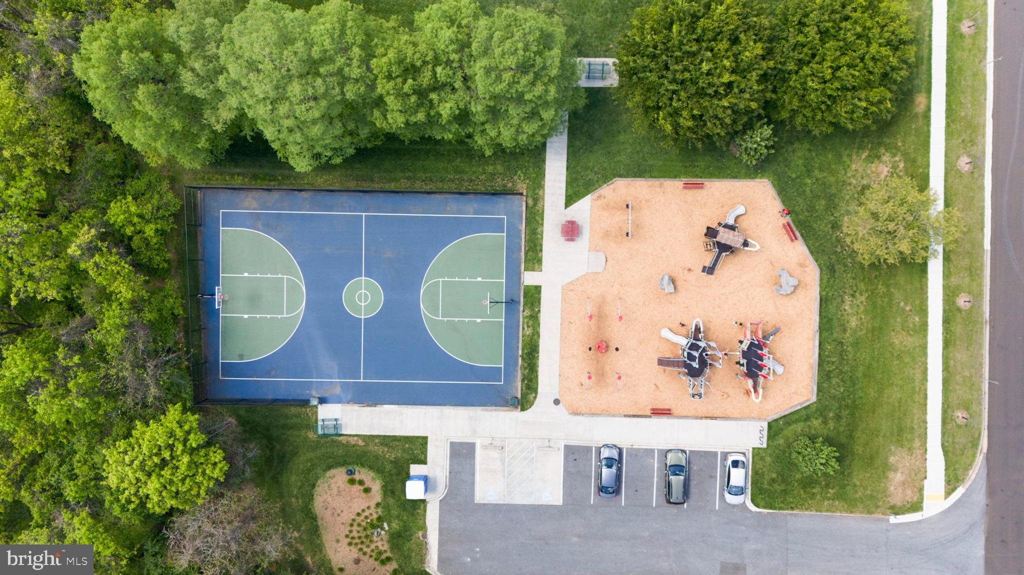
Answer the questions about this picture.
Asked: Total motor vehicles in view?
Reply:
3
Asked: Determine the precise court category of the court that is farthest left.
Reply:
basketball court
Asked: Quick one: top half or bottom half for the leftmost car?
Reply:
bottom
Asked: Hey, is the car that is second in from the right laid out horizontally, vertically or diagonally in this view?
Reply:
vertically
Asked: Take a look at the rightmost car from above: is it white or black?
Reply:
white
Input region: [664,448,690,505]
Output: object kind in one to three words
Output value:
car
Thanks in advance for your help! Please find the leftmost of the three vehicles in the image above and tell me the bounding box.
[597,444,622,498]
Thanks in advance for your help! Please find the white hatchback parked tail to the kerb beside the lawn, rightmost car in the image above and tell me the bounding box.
[722,452,749,504]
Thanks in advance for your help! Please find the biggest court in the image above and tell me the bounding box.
[197,189,526,413]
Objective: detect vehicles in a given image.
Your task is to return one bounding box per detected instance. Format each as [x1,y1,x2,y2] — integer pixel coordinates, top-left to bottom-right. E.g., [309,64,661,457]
[722,452,749,504]
[597,444,622,498]
[664,448,690,505]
